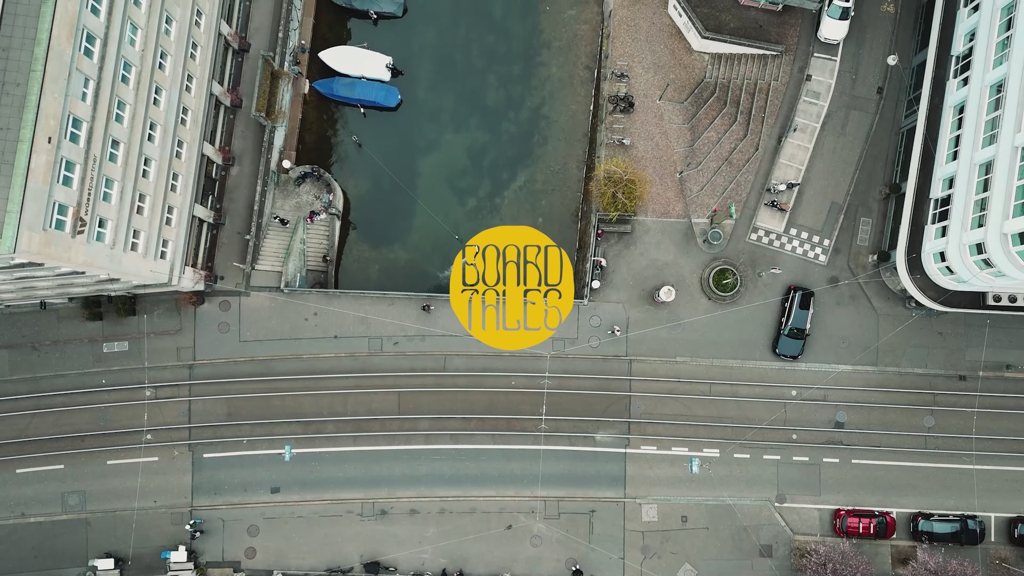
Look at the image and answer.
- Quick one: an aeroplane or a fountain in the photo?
fountain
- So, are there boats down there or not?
Yes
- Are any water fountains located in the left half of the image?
No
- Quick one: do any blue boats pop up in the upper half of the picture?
Yes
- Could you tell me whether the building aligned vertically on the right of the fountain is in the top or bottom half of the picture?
top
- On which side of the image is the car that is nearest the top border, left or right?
right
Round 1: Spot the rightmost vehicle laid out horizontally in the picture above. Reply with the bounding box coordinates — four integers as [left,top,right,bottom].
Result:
[908,510,986,548]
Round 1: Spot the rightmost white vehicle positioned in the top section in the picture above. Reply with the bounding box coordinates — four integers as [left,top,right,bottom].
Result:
[815,0,854,45]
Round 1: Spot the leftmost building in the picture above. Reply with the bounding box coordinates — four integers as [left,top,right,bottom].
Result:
[0,0,258,303]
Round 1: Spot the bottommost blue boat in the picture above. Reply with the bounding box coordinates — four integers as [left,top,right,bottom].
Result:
[311,80,403,121]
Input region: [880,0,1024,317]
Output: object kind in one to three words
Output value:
building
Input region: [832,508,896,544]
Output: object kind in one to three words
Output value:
car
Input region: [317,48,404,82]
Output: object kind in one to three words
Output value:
boat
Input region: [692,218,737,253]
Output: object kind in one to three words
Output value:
fountain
